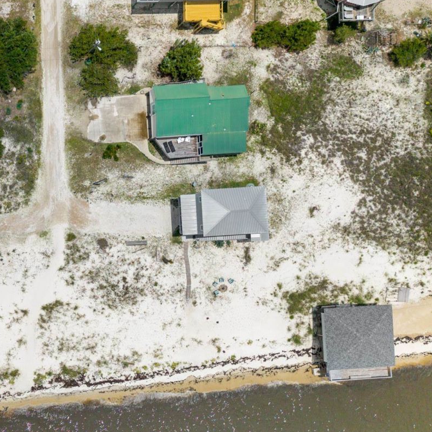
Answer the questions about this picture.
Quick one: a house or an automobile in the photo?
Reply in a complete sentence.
I can see a house in this picture.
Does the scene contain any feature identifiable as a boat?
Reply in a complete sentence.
No, the picture doesn't show any boat.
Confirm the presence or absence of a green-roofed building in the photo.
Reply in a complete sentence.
Yes, there is a green-roofed building in the image.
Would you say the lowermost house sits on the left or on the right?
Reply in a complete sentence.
The lowermost house appears in the right half of the scene.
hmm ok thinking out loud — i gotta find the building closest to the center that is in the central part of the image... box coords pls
[172,186,269,242]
